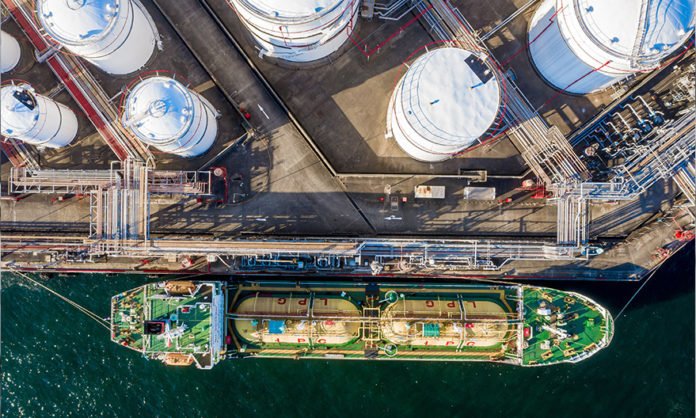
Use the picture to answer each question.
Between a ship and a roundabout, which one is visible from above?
ship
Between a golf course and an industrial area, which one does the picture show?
industrial area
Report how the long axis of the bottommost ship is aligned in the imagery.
horizontally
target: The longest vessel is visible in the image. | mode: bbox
[109,279,616,370]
